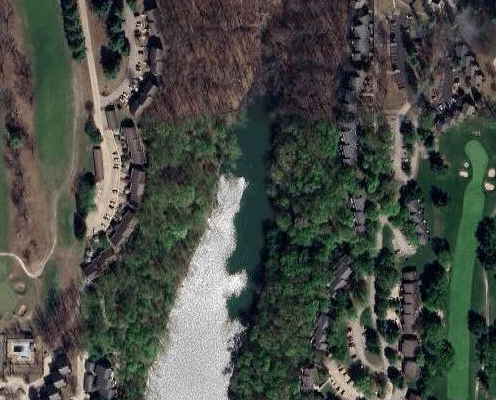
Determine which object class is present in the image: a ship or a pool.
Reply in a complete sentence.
Of the two, only a pool appears.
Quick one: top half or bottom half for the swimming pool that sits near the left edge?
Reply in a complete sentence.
The swimming pool that sits near the left edge sits in the bottom half of the picture.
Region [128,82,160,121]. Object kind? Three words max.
building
